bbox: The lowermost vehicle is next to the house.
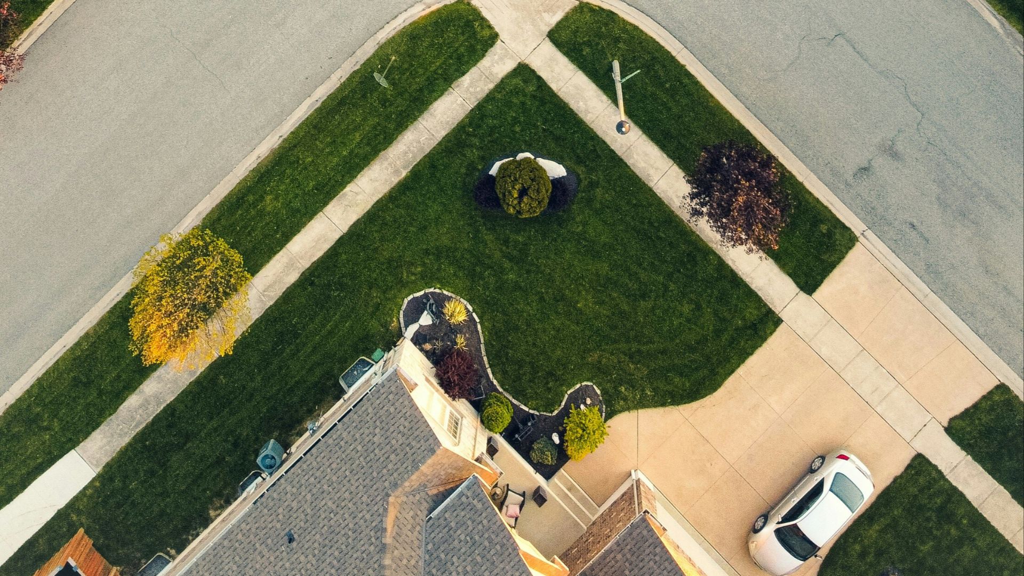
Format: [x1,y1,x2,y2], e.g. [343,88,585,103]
[746,446,876,576]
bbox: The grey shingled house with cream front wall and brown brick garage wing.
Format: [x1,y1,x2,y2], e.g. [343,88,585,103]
[170,337,743,576]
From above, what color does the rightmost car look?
white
